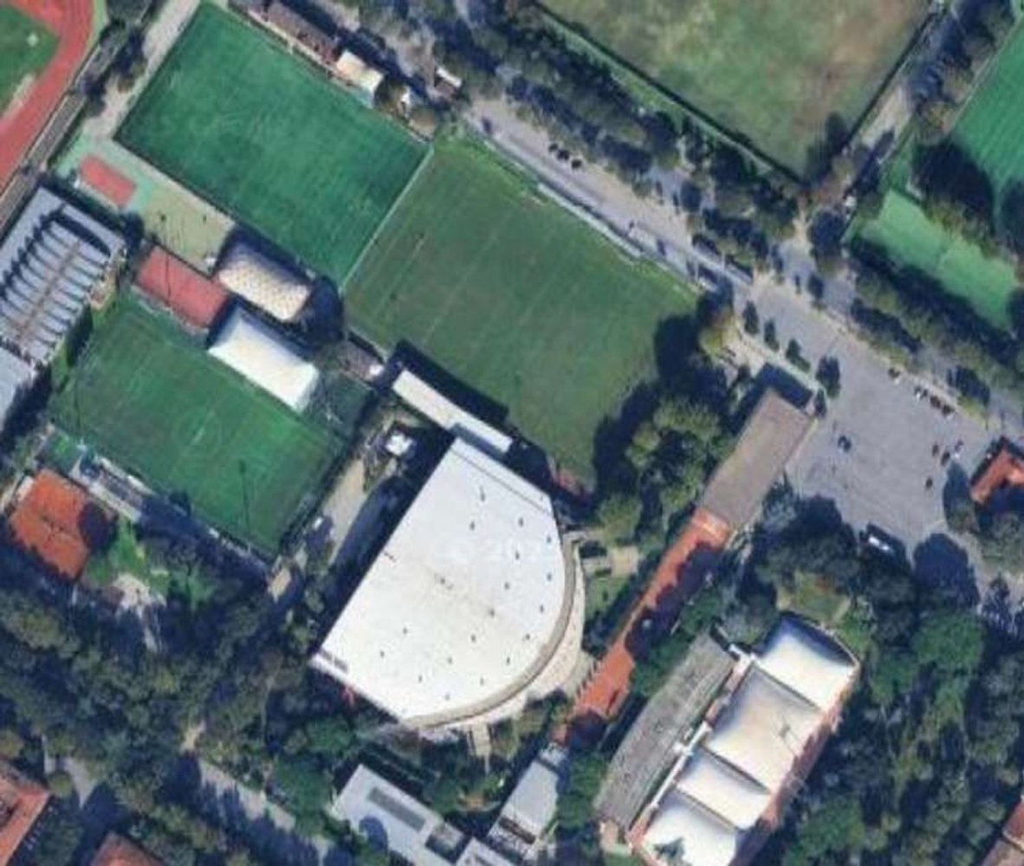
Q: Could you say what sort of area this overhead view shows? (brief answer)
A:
sports ground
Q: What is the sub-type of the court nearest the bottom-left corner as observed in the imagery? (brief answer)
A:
tennis court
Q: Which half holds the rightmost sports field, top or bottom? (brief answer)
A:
top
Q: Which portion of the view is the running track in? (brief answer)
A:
top left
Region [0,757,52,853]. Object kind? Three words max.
house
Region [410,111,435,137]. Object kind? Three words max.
shed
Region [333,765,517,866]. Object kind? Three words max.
building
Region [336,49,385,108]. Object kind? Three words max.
building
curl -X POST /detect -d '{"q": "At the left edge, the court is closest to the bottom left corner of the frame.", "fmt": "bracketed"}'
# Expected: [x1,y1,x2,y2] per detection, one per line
[9,469,97,579]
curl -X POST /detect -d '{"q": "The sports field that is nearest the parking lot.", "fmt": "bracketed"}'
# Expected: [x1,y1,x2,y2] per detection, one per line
[346,147,700,495]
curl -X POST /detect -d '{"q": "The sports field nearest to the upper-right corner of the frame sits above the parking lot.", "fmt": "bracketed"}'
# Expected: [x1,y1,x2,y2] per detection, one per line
[952,22,1024,231]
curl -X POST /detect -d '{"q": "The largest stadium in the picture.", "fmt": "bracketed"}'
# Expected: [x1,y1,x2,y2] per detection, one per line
[314,439,588,757]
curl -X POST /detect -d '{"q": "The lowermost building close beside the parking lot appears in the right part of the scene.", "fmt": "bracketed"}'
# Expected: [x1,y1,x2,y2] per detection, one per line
[626,613,860,866]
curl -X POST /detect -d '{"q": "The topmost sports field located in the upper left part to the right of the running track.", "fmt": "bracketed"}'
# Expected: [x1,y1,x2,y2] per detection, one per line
[111,0,433,291]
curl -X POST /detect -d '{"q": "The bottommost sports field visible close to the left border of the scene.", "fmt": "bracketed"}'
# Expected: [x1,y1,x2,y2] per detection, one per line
[49,295,352,556]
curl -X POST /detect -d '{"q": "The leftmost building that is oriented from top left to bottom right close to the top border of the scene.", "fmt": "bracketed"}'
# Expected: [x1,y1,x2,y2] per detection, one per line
[262,4,340,66]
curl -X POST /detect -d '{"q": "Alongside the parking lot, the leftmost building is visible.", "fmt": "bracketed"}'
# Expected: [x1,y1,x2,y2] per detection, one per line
[576,506,730,719]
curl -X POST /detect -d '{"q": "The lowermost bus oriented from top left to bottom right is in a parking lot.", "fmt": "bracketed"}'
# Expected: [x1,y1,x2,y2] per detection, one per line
[868,535,895,555]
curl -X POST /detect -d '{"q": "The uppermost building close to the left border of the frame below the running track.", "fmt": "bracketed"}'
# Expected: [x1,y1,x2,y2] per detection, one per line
[0,186,124,364]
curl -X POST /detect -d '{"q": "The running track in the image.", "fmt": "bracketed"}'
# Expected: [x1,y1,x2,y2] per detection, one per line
[0,0,95,186]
